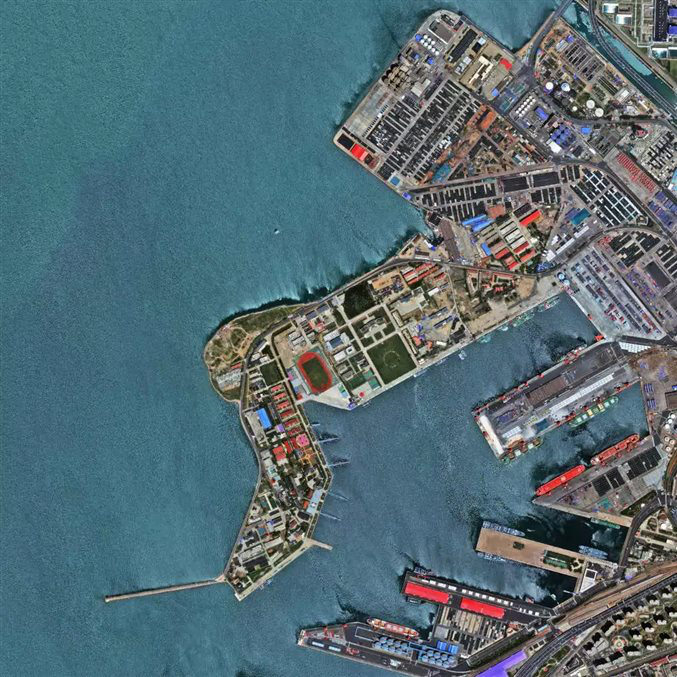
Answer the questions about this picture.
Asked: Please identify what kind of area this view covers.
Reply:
port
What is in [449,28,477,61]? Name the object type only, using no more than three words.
building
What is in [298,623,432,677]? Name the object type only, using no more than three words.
pier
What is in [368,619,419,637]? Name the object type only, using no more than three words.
ship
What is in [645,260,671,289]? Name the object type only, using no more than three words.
building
